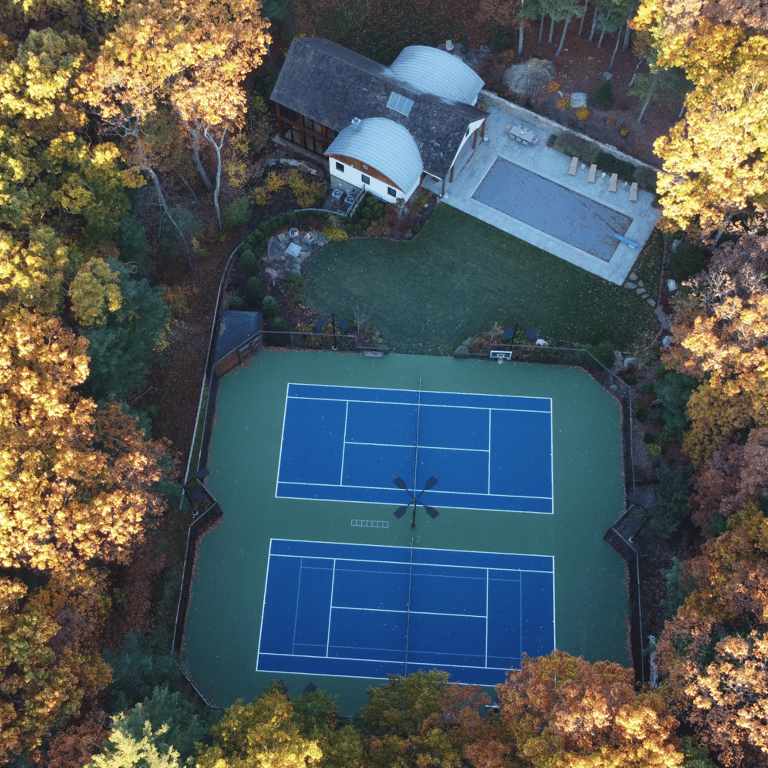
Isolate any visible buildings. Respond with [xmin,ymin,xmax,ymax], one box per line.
[271,38,489,204]
[214,310,264,380]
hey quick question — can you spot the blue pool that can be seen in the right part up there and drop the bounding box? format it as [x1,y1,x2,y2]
[465,152,640,267]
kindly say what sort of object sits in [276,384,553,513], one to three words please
tennis court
